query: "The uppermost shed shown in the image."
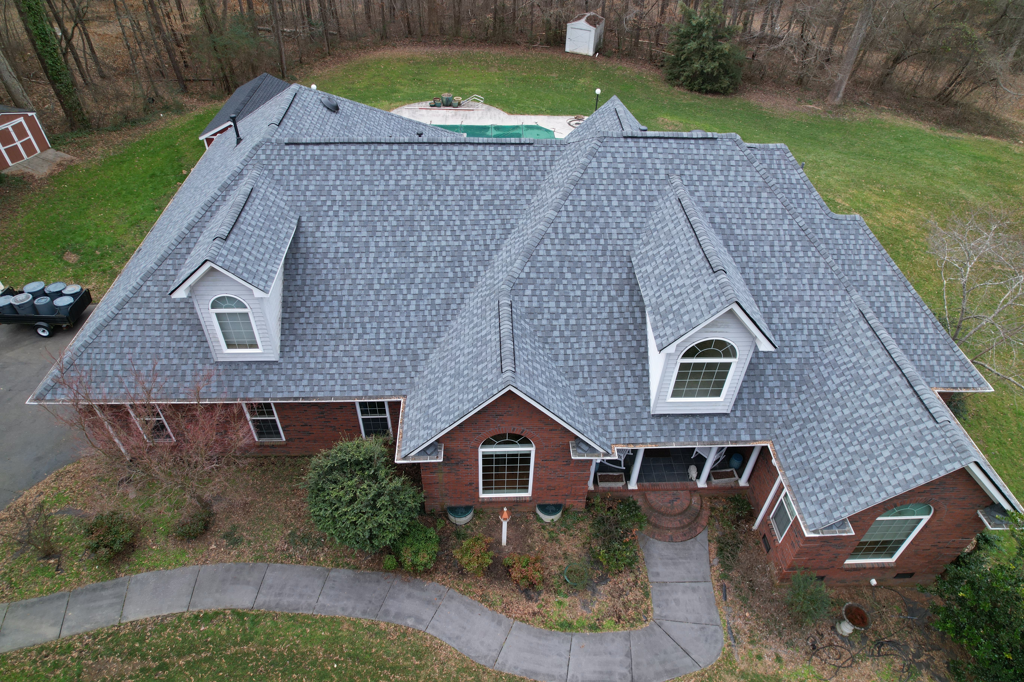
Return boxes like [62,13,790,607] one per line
[565,11,607,56]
